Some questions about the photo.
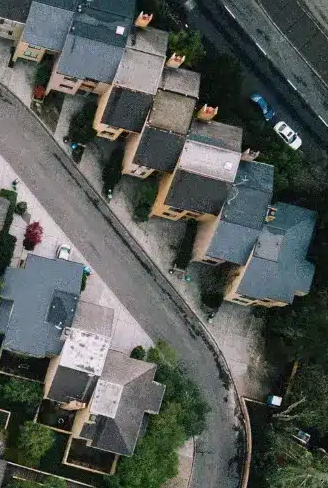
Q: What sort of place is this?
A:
residential area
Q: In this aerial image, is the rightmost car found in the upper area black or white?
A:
white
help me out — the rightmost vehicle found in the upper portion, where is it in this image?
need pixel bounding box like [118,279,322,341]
[271,119,303,152]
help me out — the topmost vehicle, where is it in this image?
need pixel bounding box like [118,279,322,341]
[249,90,277,125]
